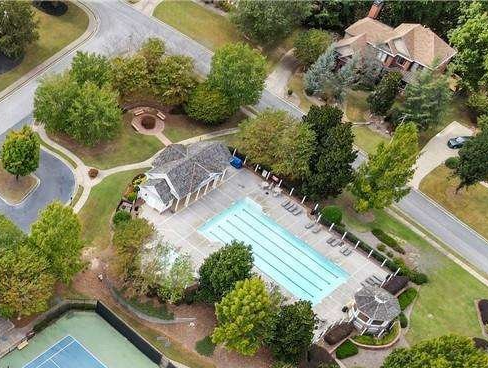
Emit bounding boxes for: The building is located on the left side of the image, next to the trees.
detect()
[136,135,238,213]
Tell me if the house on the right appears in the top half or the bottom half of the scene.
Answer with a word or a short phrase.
top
